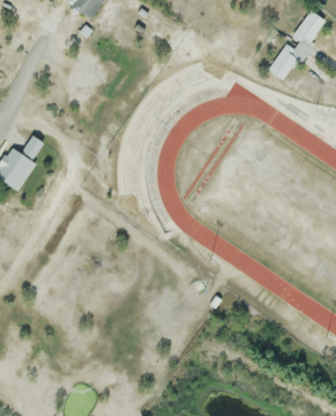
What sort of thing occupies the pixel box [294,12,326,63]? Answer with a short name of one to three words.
house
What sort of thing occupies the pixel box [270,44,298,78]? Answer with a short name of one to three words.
house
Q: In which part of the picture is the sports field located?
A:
right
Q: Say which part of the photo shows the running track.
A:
right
